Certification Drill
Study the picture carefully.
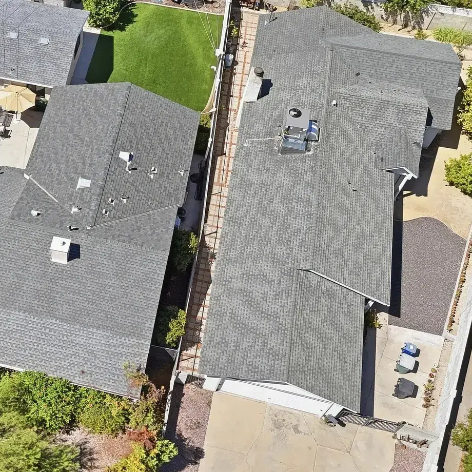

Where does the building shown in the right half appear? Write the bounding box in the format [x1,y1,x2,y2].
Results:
[180,6,463,419]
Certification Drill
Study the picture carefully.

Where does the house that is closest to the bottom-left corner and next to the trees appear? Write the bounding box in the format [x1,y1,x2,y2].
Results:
[0,82,200,403]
